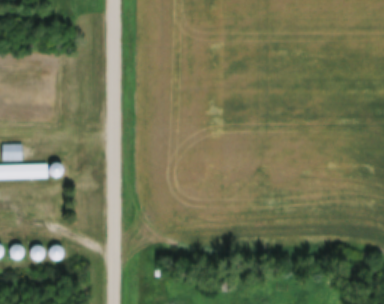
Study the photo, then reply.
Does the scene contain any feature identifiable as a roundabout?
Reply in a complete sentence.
No, the frame has no roundabout in it.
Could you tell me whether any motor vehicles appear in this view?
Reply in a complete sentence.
No, there is no motor vehicle in the image.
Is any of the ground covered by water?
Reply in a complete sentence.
No, the picture contains no water.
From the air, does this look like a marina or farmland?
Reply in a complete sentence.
This looks like farmland.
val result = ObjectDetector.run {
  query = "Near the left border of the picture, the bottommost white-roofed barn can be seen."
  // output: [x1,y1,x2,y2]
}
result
[0,163,48,180]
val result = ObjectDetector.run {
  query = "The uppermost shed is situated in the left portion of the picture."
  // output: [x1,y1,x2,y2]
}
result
[0,143,22,162]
